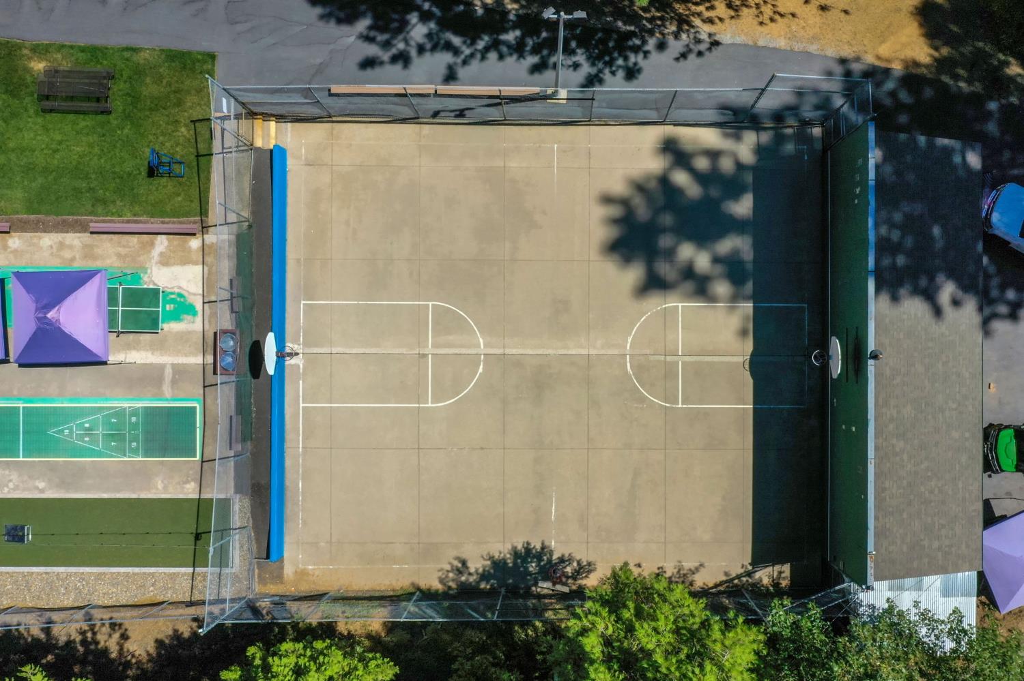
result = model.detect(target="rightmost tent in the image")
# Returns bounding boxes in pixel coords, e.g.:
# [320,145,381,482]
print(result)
[976,512,1024,613]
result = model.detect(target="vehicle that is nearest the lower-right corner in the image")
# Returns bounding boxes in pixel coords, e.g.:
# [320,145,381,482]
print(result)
[983,420,1024,479]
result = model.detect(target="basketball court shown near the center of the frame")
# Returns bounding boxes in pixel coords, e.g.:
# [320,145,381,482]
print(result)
[258,122,830,600]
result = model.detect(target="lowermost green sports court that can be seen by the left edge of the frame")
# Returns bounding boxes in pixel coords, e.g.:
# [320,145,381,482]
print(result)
[0,499,232,568]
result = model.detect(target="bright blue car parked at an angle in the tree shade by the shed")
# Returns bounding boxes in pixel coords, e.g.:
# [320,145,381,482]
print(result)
[983,186,1024,256]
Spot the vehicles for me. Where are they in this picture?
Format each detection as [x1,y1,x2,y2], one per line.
[983,186,1024,256]
[983,420,1024,479]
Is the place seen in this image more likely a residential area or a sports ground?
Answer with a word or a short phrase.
sports ground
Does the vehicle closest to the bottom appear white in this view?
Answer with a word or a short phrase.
No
